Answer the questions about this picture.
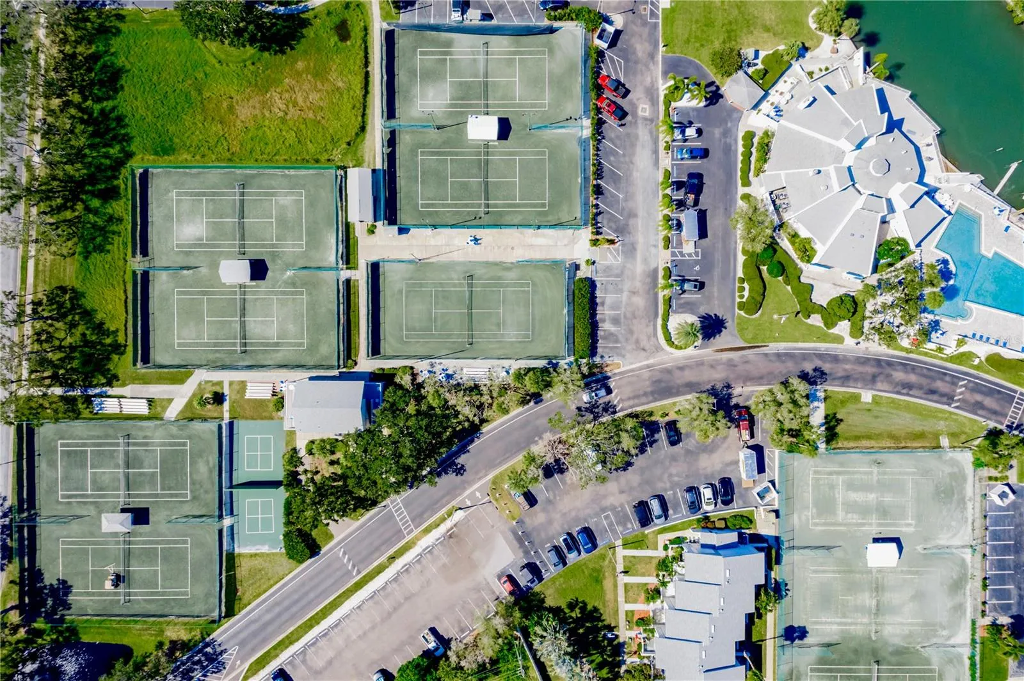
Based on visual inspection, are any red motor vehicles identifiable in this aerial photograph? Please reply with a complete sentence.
Yes, a red motor vehicle can be made out from above.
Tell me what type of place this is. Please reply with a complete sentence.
The picture captures a sports ground.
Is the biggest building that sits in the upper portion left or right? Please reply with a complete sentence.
The biggest building that sits in the upper portion appears in the right half of the scene.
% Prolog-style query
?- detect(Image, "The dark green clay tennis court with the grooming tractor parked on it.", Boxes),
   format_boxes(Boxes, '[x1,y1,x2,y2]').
[25,519,223,616]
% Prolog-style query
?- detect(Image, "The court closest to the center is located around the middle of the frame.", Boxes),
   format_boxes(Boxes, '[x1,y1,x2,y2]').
[370,261,564,359]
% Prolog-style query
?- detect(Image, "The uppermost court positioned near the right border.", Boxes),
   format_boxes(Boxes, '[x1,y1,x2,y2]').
[782,450,974,549]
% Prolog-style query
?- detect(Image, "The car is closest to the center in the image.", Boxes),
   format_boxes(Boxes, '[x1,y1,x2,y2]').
[581,385,610,403]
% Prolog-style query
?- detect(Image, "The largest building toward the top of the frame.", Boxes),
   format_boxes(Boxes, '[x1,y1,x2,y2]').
[752,47,947,279]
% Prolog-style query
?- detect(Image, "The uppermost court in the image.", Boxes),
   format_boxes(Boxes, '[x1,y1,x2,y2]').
[385,32,581,128]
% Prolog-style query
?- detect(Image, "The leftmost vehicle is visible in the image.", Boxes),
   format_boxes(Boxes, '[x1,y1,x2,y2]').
[107,567,121,586]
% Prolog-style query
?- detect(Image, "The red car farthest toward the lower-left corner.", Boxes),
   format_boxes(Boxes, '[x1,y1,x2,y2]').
[498,573,517,596]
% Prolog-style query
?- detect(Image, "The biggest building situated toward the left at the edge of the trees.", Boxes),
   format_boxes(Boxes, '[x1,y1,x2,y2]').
[282,382,387,432]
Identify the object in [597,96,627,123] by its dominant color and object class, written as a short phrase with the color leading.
red truck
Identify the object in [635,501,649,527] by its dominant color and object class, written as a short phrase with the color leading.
black car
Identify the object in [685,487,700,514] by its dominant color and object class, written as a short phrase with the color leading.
blue car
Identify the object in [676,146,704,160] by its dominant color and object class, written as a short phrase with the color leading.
blue car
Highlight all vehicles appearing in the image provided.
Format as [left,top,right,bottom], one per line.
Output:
[107,567,121,586]
[576,527,593,553]
[676,281,700,291]
[701,484,715,510]
[468,9,481,22]
[581,385,610,403]
[374,667,393,681]
[450,0,462,21]
[635,501,649,527]
[419,628,445,657]
[546,545,564,570]
[598,73,628,100]
[685,487,700,514]
[676,146,704,160]
[560,533,577,558]
[649,496,665,523]
[684,173,700,208]
[674,127,699,139]
[512,490,532,514]
[736,409,752,442]
[518,564,538,586]
[498,573,517,596]
[666,420,679,446]
[719,478,734,505]
[597,96,627,123]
